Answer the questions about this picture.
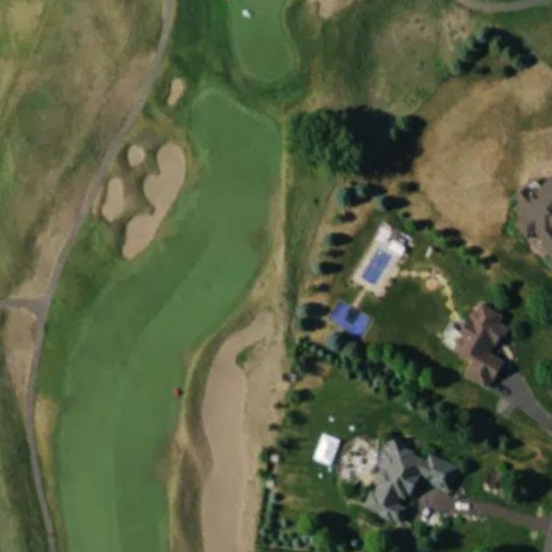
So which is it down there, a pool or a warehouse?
pool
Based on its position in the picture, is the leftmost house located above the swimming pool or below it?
below it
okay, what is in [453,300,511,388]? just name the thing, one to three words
house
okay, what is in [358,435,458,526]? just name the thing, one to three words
house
